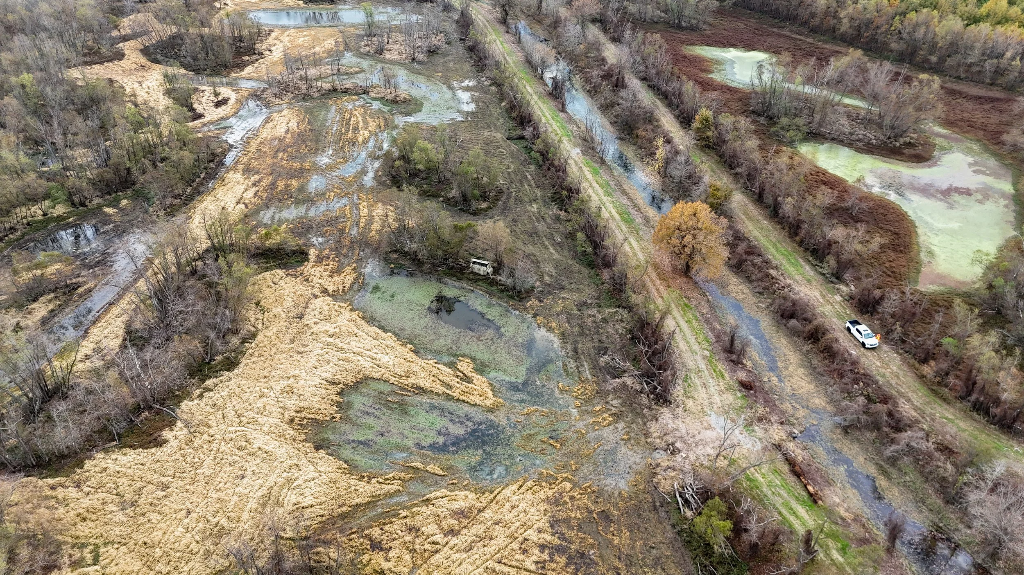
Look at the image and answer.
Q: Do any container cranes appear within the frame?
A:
No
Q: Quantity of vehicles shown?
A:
1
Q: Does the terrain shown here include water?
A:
Yes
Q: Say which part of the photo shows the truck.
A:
right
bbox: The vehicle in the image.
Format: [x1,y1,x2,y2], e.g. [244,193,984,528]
[848,314,885,347]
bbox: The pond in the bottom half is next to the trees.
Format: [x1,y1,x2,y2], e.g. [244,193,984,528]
[304,253,590,544]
